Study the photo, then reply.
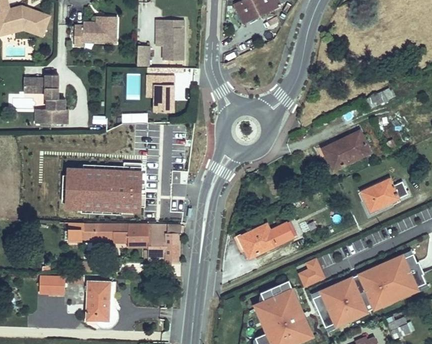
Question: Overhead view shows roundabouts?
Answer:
Yes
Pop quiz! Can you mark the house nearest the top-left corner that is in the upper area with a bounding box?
[0,0,52,38]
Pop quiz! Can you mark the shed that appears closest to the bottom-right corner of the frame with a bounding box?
[388,316,415,339]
